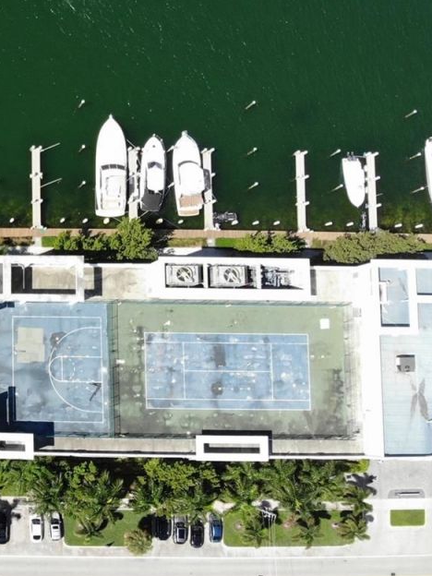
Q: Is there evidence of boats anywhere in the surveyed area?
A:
Yes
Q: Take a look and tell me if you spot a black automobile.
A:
Yes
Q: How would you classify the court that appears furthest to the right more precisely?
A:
tennis court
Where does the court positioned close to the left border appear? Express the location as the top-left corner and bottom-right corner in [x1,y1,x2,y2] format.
[0,302,110,435]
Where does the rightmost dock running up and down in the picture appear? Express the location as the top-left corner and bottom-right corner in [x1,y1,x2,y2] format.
[359,152,382,232]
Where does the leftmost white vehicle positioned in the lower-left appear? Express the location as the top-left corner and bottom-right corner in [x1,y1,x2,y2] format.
[29,511,43,545]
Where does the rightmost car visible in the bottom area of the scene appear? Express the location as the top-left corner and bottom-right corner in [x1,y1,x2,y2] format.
[206,510,223,544]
